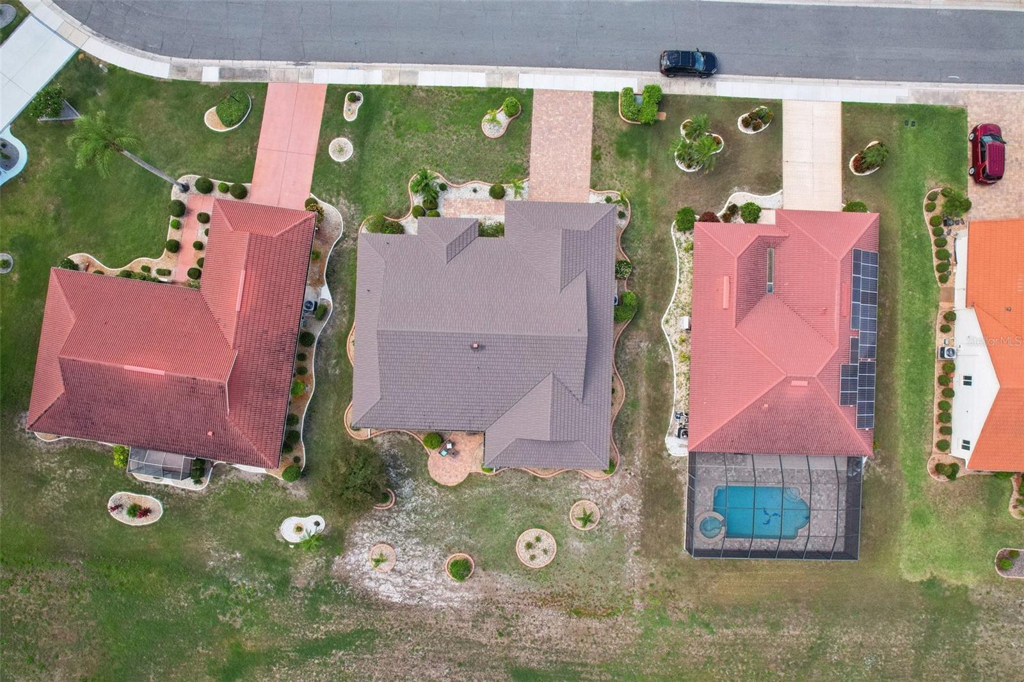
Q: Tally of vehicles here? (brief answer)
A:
two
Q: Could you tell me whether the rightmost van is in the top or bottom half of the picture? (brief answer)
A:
top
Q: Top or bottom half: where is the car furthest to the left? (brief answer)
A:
top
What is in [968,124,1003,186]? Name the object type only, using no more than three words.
van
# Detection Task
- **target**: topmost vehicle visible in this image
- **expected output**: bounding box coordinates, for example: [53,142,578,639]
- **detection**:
[658,48,718,78]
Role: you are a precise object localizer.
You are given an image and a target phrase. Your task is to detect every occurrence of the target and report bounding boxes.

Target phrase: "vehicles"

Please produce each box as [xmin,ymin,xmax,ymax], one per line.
[658,48,718,78]
[968,124,1003,186]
